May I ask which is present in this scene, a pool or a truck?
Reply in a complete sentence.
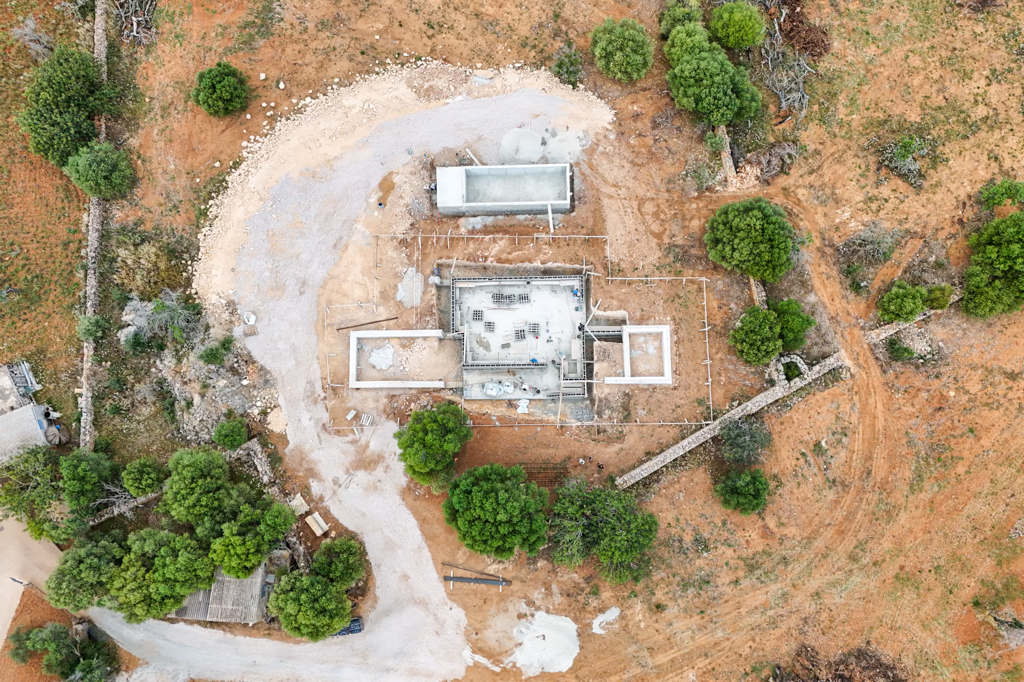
Looking from above, you can make out a pool.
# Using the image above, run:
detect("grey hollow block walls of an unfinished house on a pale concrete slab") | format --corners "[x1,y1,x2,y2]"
[451,275,624,401]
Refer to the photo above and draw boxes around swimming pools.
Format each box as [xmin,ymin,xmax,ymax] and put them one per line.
[436,163,575,213]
